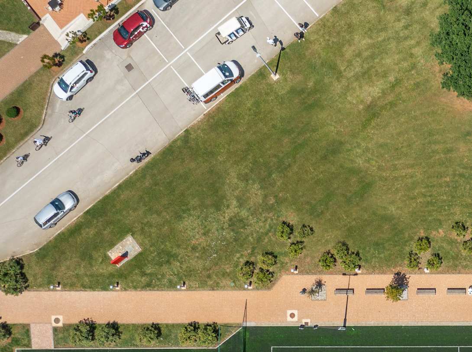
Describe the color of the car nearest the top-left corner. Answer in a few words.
white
